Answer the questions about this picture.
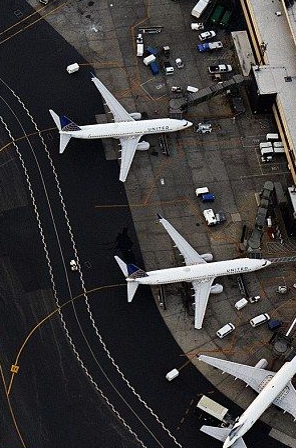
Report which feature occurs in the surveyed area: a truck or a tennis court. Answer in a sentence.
The image shows a truck.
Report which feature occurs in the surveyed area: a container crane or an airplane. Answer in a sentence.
The one in the frame is an airplane.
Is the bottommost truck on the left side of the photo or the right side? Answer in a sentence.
The bottommost truck appears in the right half of the scene.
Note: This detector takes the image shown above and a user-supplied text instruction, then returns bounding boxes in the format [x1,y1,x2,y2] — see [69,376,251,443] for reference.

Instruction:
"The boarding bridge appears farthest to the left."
[170,72,253,118]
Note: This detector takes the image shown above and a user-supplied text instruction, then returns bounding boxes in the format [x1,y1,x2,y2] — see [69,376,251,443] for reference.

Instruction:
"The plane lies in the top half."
[50,72,195,183]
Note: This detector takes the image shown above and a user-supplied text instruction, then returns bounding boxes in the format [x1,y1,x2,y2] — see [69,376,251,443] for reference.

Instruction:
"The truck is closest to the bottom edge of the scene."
[197,392,233,425]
